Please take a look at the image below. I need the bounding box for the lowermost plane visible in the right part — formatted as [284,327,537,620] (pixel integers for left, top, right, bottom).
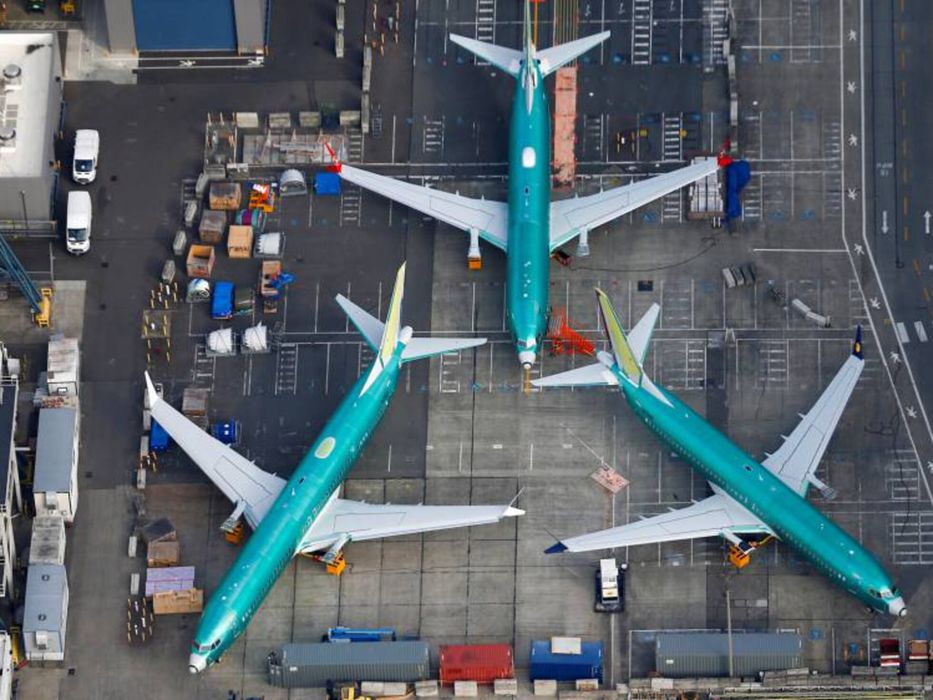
[530,288,907,616]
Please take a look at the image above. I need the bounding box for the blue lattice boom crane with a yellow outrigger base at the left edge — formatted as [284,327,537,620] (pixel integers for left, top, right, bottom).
[0,226,52,326]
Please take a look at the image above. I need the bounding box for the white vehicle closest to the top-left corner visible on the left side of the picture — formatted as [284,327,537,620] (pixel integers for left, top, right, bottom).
[70,129,97,180]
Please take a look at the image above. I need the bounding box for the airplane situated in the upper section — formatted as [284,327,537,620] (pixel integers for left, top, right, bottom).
[325,0,733,367]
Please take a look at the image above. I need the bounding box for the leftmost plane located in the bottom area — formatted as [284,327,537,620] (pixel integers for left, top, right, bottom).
[145,262,527,674]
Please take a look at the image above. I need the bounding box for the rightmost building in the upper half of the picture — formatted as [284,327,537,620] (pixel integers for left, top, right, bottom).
[132,0,239,52]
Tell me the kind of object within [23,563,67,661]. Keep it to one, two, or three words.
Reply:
trailer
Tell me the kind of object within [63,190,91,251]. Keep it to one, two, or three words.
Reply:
van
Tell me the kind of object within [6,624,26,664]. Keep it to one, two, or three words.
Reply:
work vehicle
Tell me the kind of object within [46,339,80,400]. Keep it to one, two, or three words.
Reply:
trailer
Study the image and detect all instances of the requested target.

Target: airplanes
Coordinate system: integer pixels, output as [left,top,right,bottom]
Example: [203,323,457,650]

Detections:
[325,0,733,367]
[530,288,907,616]
[145,262,527,674]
